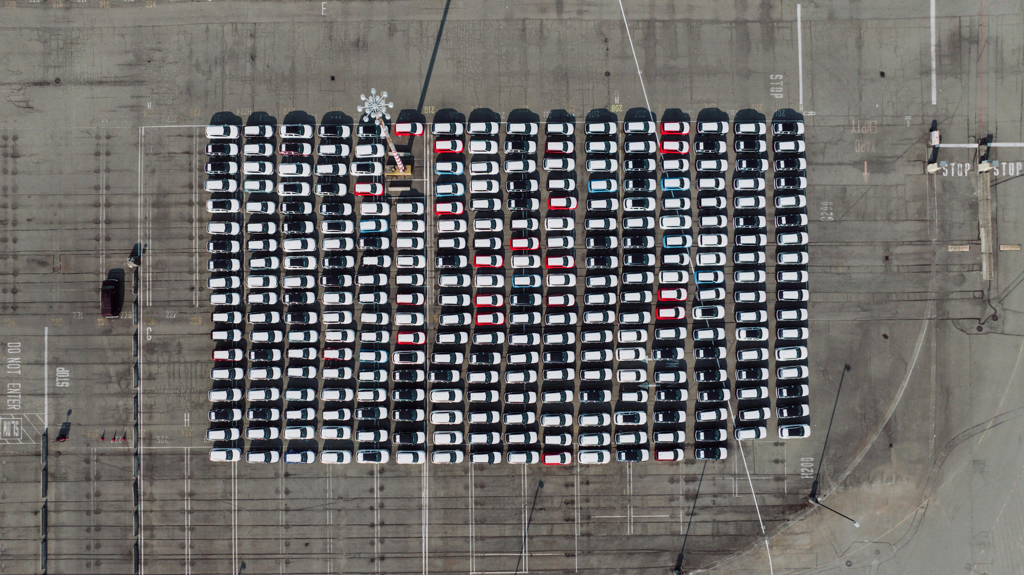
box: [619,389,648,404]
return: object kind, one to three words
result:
car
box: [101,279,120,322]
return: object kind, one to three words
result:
vehicle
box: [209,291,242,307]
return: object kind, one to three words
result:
car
